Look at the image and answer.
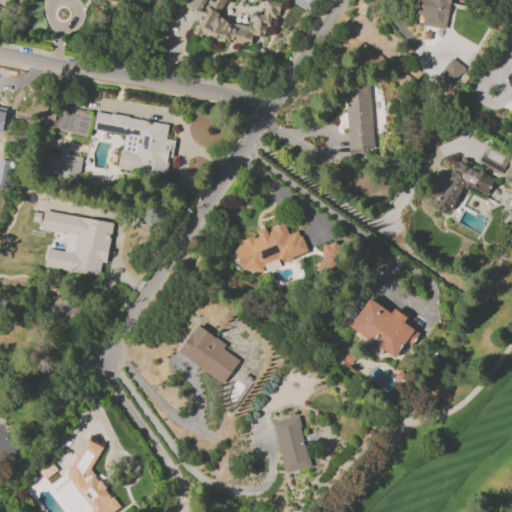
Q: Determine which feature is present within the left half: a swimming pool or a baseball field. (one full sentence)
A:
What appears within the left half is a swimming pool.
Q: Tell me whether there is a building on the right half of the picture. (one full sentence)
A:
Yes, I can see a building on the right half of the picture.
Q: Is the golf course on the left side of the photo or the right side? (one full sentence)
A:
The golf course sits on the right side.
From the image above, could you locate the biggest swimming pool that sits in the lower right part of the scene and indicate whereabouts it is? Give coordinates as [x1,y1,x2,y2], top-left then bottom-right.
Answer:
[372,368,395,389]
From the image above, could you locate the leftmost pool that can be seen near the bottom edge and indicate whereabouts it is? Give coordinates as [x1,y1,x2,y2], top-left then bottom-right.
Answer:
[39,490,64,512]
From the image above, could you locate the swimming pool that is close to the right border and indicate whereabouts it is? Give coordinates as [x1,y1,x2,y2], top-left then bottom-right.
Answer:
[460,210,488,234]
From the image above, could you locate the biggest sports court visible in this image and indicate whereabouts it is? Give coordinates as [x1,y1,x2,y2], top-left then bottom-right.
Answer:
[58,110,92,136]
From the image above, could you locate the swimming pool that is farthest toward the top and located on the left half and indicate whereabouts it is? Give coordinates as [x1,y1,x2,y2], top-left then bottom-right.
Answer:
[94,142,111,168]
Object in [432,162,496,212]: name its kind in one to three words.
house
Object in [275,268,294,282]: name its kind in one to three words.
swimming pool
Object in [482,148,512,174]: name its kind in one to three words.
building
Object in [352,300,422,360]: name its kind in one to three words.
house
